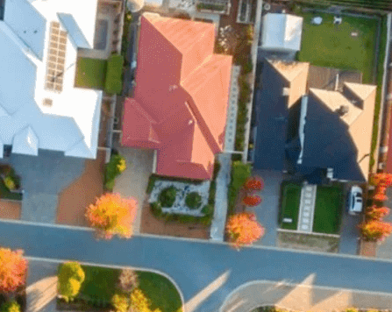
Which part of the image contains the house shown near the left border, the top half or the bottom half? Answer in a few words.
top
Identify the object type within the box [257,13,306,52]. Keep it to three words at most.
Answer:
shed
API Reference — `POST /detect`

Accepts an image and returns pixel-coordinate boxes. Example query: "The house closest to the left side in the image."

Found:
[0,0,103,161]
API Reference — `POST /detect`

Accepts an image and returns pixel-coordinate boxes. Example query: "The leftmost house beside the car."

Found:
[250,56,377,183]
